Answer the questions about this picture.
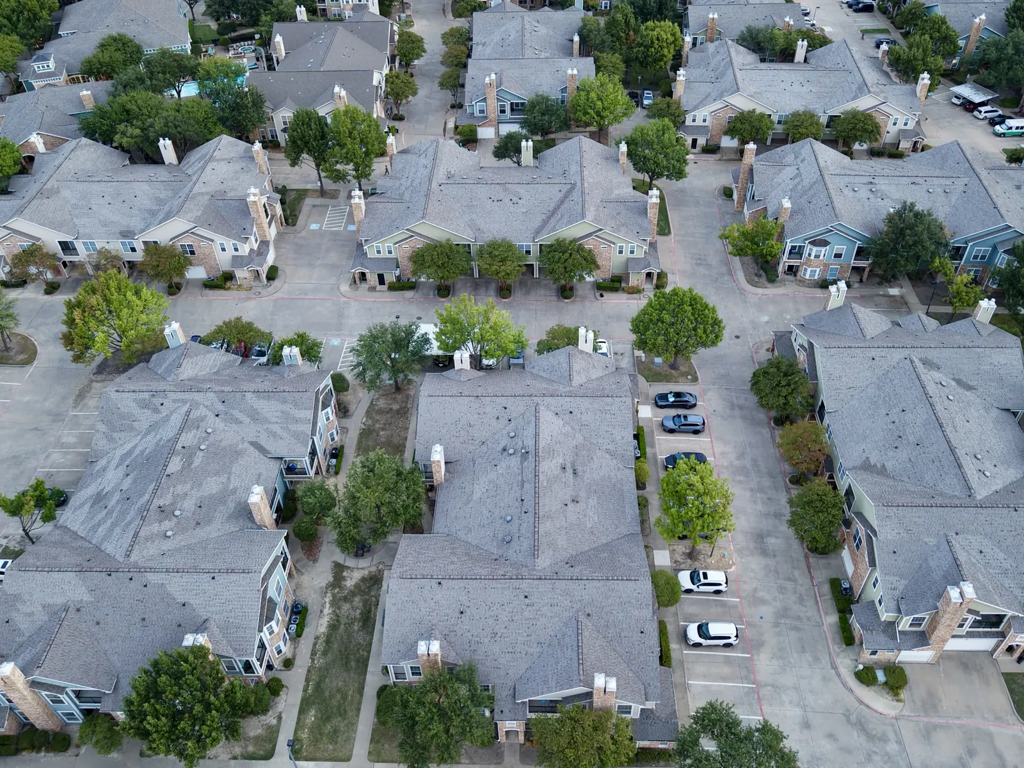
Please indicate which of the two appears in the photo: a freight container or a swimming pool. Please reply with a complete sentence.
Of the two, only a swimming pool appears.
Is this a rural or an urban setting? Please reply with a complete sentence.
It looks urban.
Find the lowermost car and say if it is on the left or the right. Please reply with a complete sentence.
The lowermost car appears in the right half of the scene.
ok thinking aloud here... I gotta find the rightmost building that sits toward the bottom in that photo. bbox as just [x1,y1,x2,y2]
[771,284,1024,663]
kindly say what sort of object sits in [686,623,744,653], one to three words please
car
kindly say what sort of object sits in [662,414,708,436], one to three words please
car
